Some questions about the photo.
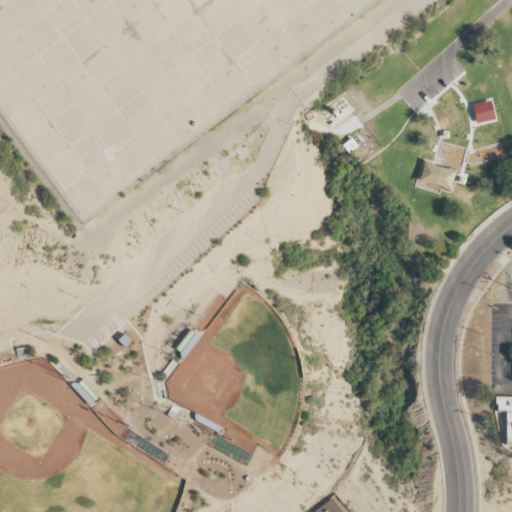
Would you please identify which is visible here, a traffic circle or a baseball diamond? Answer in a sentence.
The image shows a baseball diamond.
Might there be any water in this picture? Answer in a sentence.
Yes, some water is visible.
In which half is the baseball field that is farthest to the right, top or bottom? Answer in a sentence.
The bottom half of the photo is where the baseball field that is farthest to the right is.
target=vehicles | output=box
[438,78,447,88]
[419,92,428,102]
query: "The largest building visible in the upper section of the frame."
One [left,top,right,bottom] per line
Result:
[418,159,458,192]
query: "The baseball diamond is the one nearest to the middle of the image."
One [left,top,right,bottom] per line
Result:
[166,286,302,455]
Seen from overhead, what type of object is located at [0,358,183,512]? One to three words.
baseball field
